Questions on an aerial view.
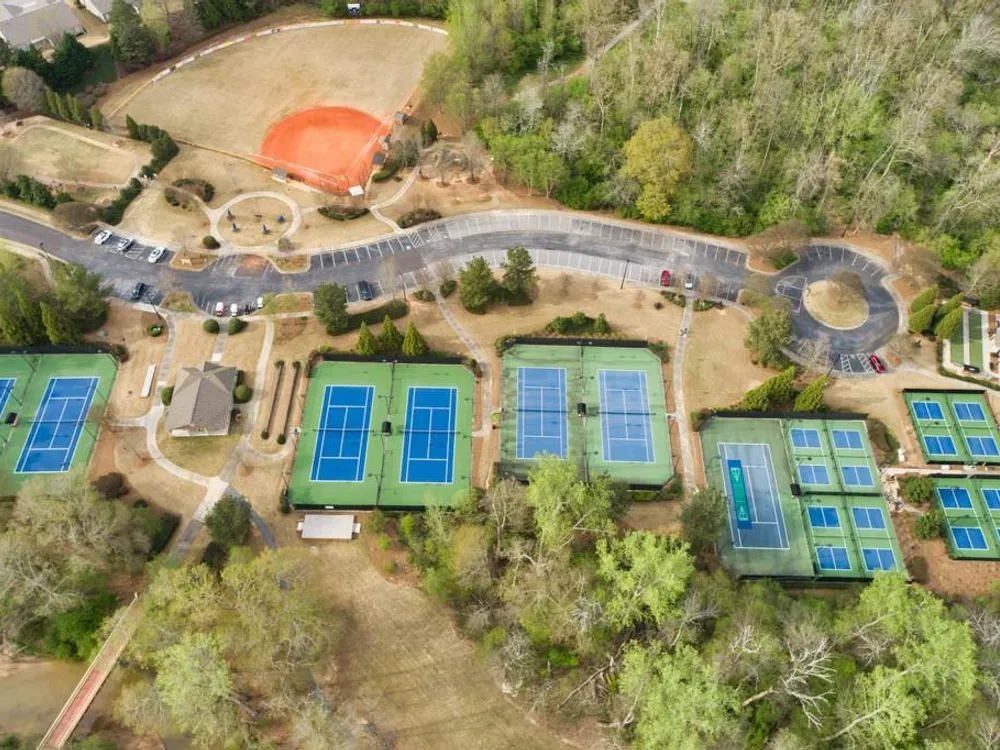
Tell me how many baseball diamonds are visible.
1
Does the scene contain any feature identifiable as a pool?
No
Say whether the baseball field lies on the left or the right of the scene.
left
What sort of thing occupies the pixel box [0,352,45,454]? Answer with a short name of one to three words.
tennis court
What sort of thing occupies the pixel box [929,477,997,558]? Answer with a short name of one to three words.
sports court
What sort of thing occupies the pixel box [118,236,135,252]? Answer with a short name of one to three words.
car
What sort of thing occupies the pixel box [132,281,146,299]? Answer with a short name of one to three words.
car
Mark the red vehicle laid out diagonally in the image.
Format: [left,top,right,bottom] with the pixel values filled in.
[868,355,886,374]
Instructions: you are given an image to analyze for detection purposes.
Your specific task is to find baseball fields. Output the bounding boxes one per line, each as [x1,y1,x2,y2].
[117,24,446,194]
